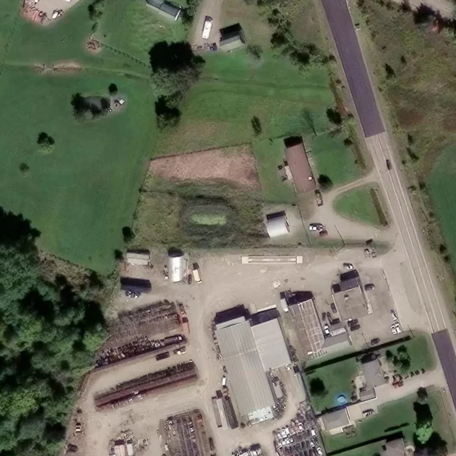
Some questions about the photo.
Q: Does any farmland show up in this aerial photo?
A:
Yes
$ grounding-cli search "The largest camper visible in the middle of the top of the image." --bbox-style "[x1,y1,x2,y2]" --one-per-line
[202,15,214,39]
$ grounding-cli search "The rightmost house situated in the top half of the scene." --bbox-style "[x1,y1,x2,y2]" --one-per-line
[286,143,318,192]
